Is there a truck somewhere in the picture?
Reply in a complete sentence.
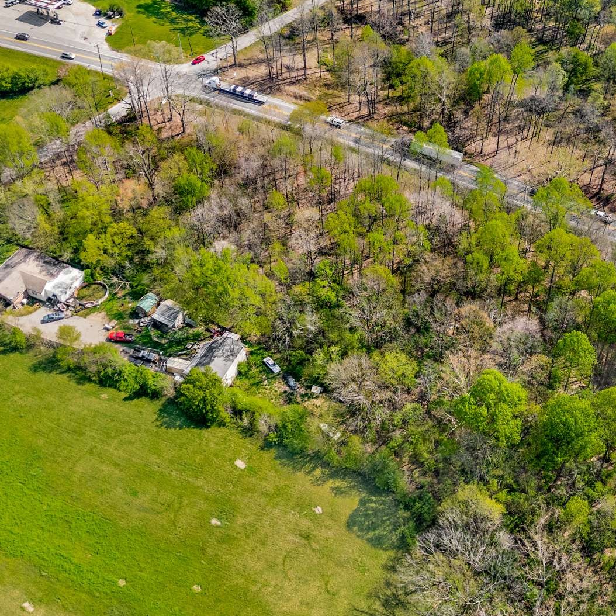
Yes, the picture does show a truck.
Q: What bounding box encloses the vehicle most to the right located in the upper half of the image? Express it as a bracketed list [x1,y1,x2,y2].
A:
[590,209,615,222]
